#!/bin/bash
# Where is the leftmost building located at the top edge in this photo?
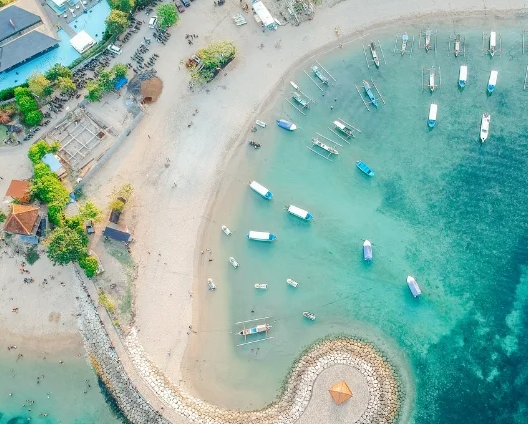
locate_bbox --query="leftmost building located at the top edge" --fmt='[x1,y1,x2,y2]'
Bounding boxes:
[0,0,66,75]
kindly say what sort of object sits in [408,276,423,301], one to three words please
boat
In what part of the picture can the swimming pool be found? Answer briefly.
top left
